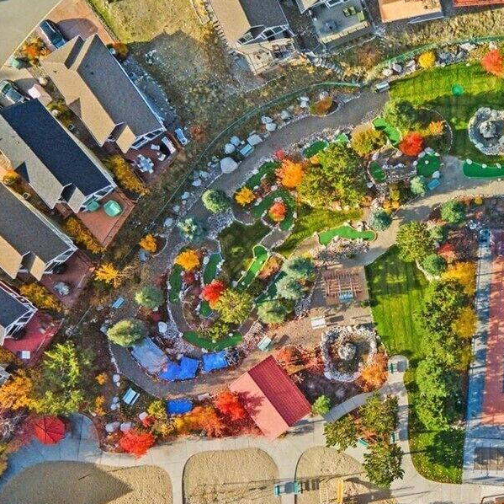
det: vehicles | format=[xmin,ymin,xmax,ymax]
[0,74,26,104]
[32,14,67,53]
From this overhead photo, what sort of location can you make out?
residential area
